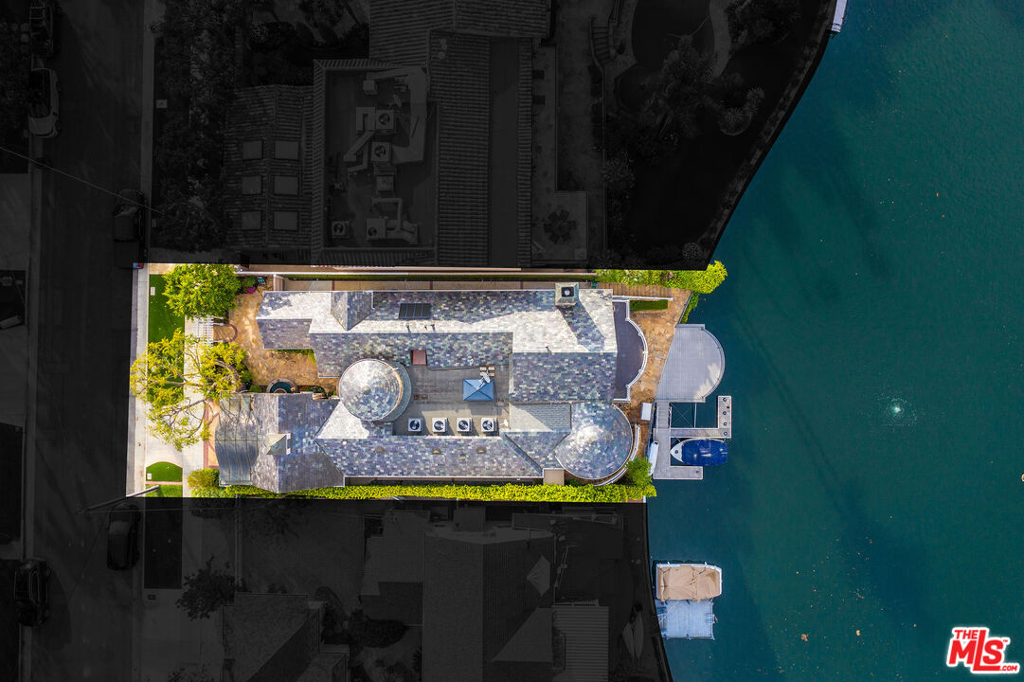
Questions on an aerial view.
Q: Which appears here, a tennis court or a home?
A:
home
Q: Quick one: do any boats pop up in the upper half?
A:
No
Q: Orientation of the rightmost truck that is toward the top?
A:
from top to bottom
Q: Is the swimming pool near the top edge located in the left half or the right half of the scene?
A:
right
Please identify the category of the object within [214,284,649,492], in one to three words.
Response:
house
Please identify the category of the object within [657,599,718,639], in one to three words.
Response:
pier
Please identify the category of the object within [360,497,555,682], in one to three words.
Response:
house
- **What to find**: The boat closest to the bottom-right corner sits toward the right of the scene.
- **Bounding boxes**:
[658,565,724,604]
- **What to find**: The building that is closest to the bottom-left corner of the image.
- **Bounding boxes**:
[225,582,349,682]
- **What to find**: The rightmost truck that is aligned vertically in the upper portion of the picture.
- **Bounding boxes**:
[111,188,149,270]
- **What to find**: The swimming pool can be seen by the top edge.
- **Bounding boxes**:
[614,0,718,113]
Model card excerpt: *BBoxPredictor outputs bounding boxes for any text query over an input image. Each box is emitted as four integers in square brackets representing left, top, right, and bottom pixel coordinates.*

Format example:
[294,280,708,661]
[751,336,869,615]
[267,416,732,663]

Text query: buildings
[214,284,649,492]
[360,497,555,682]
[312,0,550,278]
[225,582,349,682]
